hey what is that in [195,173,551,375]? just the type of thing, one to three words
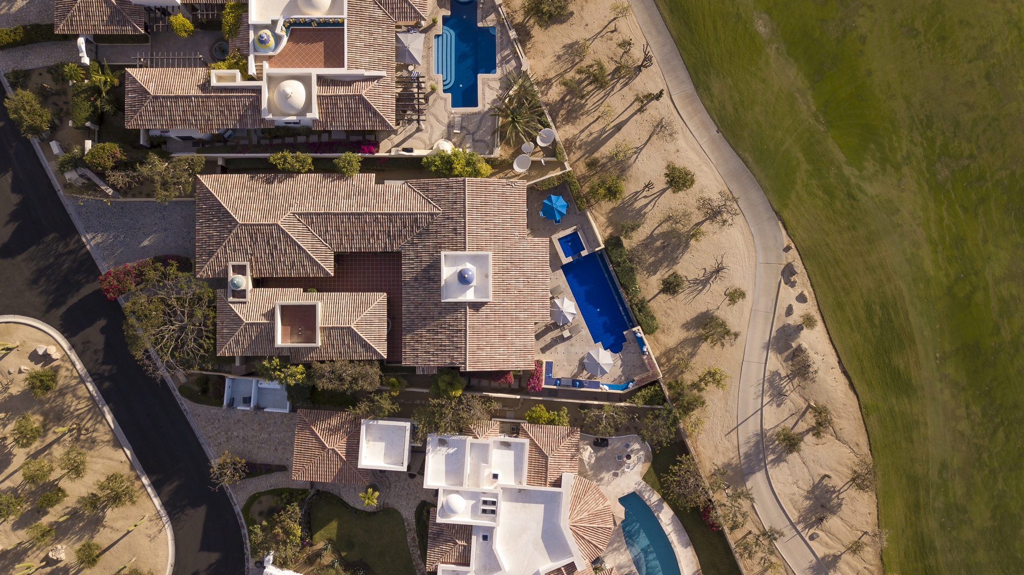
house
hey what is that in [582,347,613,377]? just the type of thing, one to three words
umbrella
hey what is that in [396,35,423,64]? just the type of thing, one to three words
umbrella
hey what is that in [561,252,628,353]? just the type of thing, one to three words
swimming pool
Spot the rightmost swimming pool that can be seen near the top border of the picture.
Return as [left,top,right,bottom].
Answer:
[429,0,500,112]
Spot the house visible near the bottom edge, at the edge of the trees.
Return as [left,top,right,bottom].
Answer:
[291,409,616,575]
